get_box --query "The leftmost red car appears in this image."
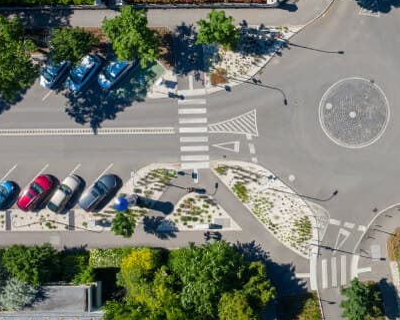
[19,173,58,213]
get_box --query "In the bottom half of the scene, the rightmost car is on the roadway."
[78,173,120,215]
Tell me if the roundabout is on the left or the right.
right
